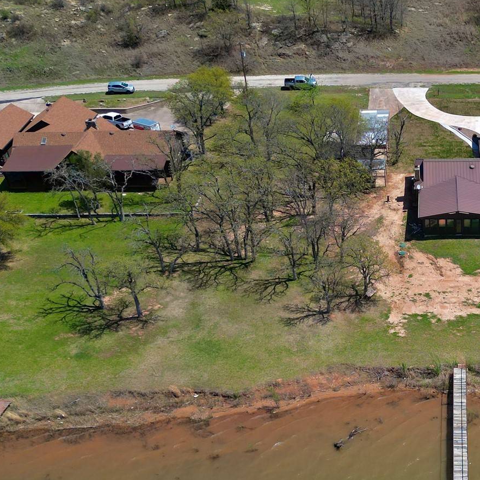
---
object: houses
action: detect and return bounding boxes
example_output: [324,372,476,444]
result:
[409,146,480,239]
[0,97,189,189]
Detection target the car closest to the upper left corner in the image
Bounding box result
[103,82,135,95]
